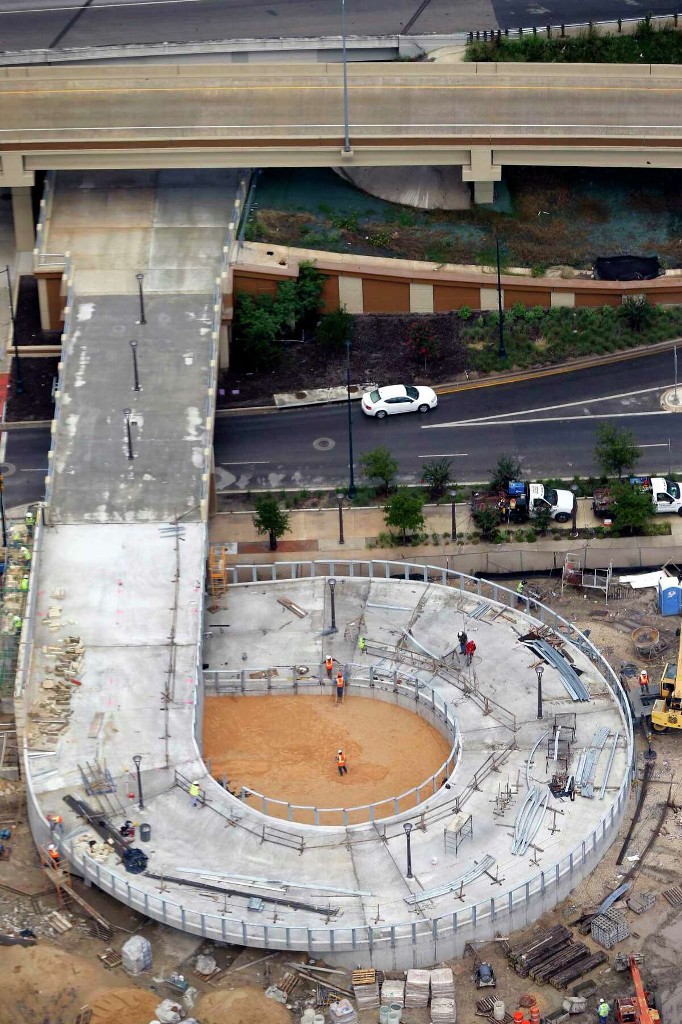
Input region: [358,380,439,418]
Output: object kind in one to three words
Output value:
car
